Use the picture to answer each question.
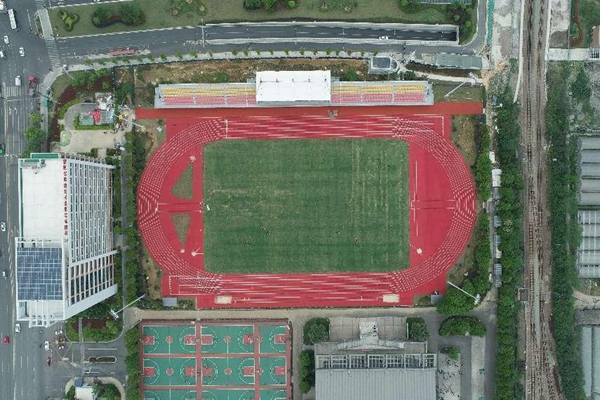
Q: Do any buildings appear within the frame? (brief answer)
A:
Yes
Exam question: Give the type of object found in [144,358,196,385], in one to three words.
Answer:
basketball court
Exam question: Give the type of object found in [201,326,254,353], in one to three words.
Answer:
basketball court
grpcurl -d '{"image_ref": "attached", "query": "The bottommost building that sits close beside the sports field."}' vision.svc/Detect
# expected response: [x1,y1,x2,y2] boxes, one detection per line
[315,322,437,400]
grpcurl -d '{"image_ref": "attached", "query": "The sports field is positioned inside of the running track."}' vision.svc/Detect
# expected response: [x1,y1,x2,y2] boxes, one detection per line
[203,139,410,273]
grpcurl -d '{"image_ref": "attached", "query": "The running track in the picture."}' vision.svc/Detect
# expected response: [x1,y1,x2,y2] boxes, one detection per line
[135,104,483,308]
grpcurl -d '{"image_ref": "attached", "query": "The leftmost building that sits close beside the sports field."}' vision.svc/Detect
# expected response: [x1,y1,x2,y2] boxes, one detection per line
[15,153,119,329]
